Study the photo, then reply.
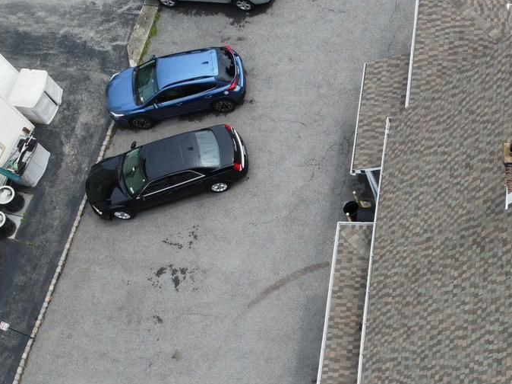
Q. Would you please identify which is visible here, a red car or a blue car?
blue car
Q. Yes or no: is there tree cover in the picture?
No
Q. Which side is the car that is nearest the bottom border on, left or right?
left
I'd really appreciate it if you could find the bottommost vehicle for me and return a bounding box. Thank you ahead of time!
[82,121,251,220]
